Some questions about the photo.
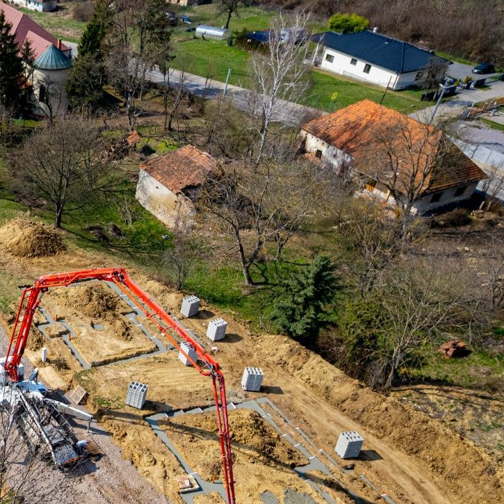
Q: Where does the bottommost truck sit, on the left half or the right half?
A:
left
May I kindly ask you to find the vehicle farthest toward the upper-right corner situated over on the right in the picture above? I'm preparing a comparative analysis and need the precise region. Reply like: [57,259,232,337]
[469,61,501,73]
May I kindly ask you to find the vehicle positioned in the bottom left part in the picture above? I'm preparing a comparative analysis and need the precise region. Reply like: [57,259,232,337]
[0,266,238,504]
